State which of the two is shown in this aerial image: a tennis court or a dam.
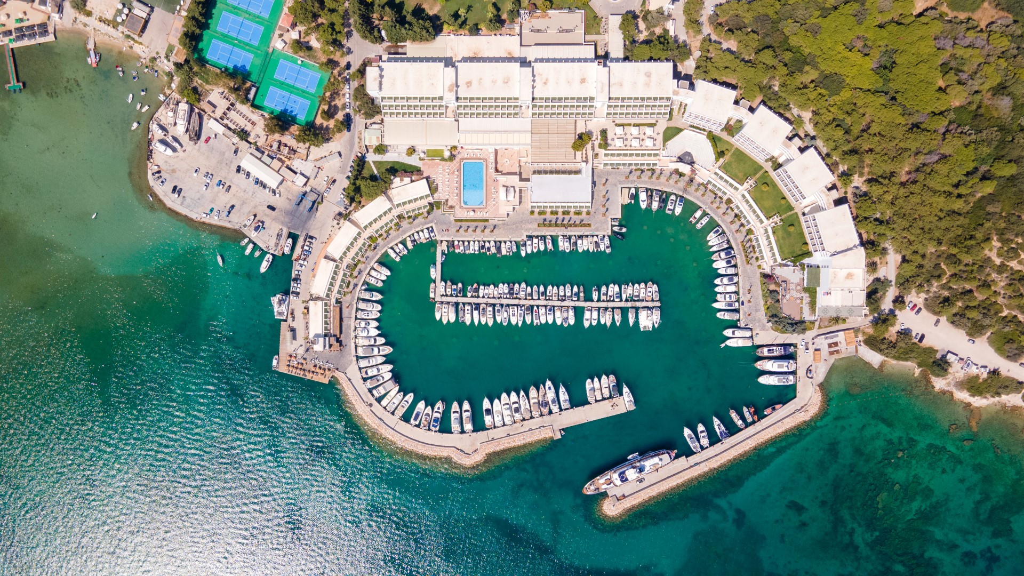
tennis court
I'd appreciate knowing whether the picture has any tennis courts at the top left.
Yes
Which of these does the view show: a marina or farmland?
marina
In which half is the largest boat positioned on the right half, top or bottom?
bottom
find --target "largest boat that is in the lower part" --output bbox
[583,449,676,493]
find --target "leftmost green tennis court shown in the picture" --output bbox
[193,0,285,82]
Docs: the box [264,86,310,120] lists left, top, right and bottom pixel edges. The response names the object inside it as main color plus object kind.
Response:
blue tennis court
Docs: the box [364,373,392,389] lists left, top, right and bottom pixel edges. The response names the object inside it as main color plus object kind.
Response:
white boat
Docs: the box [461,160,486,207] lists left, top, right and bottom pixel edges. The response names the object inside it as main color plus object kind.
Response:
blue swimming pool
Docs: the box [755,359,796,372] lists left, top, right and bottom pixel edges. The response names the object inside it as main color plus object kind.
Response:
white boat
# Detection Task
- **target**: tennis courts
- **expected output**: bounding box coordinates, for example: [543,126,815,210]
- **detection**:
[274,59,320,94]
[264,86,310,120]
[217,11,264,46]
[251,49,331,125]
[193,0,285,82]
[227,0,274,18]
[207,39,254,73]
